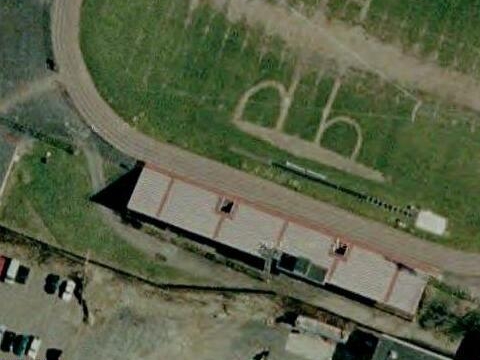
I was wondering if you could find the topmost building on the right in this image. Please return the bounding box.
[297,316,342,345]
